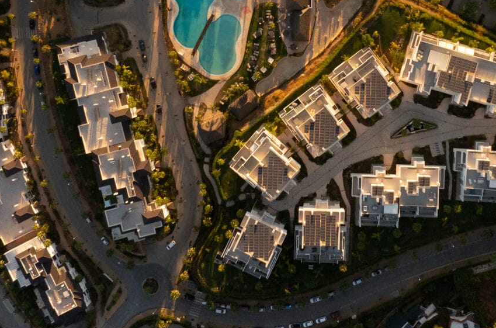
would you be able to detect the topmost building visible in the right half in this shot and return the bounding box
[286,0,312,42]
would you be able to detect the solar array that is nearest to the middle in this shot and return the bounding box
[262,152,289,190]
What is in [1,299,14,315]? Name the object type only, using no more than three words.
vehicle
